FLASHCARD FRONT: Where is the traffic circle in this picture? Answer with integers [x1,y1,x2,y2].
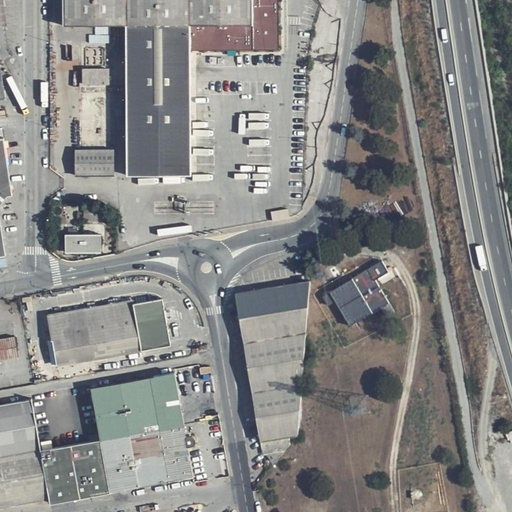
[181,242,232,293]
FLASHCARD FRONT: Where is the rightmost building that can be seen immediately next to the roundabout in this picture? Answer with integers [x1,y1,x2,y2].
[236,282,310,442]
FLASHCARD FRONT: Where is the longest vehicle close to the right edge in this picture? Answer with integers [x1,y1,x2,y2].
[475,244,488,270]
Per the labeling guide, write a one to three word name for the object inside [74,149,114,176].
shed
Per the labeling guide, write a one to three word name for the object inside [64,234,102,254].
house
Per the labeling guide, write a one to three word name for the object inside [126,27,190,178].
building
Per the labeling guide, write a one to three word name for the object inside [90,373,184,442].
building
